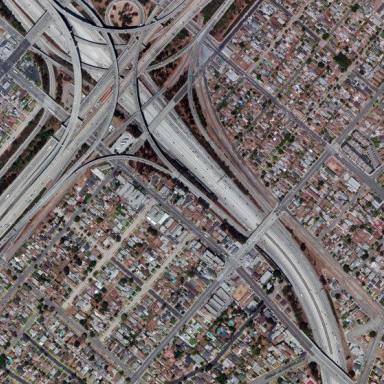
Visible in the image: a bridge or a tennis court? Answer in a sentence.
Visible in the photo is a bridge.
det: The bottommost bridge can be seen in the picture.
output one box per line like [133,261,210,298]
[302,339,359,384]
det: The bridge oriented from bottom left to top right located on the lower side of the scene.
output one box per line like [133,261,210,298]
[230,202,284,260]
